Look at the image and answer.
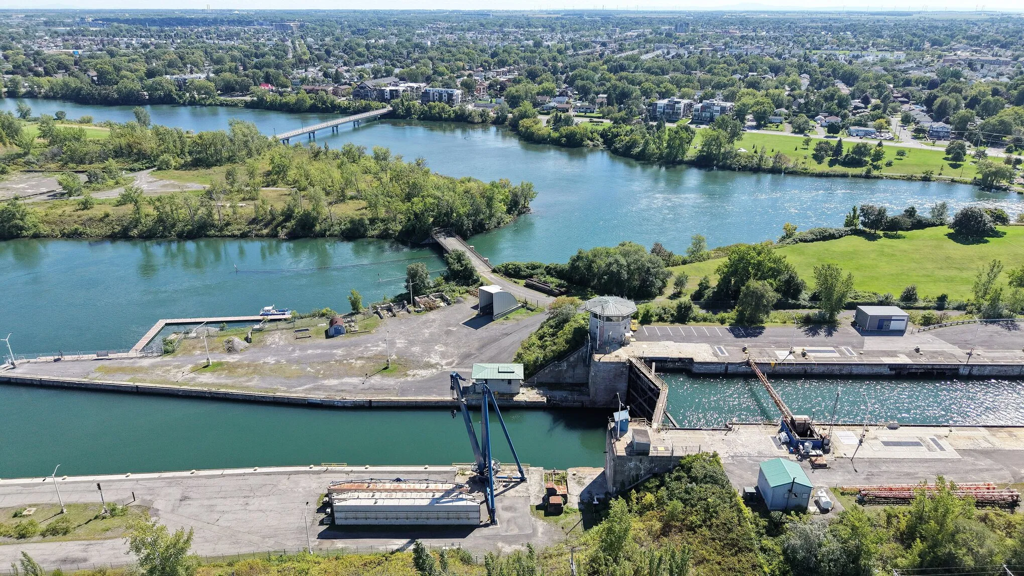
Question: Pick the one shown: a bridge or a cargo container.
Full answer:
Visible in the photo is a bridge.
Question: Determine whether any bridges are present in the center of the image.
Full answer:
Yes, I can see a bridge in the center of the image.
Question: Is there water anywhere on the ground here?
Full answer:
Yes, there is water in the image.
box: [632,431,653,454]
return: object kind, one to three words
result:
shed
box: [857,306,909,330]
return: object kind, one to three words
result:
building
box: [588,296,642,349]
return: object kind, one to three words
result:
building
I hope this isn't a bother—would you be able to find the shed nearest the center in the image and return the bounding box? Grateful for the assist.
[478,282,524,320]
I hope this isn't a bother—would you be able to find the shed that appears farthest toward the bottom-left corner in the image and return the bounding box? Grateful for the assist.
[326,311,345,336]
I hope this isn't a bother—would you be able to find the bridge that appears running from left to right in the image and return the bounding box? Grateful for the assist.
[266,105,401,142]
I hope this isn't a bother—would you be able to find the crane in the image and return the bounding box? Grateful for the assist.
[448,371,528,529]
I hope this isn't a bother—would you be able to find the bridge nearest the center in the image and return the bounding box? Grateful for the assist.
[423,228,493,277]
